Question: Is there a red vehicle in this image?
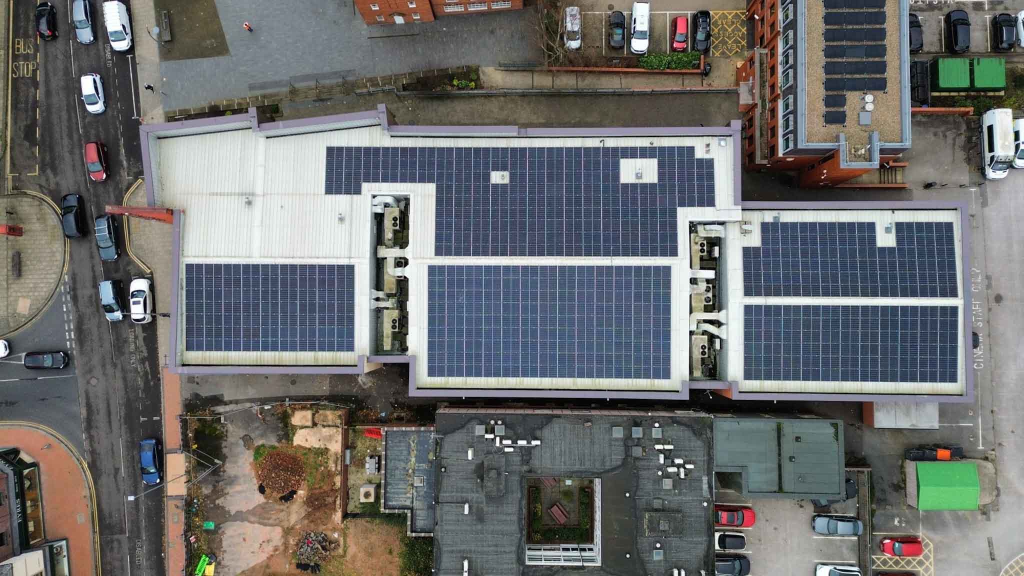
Yes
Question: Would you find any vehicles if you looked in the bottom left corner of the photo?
Yes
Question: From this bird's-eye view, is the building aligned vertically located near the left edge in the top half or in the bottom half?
bottom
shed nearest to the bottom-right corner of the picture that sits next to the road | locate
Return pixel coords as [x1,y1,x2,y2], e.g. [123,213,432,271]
[908,460,979,510]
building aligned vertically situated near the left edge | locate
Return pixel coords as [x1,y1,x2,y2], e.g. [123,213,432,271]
[0,448,44,558]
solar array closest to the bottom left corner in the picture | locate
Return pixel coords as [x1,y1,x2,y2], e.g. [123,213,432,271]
[186,264,355,352]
